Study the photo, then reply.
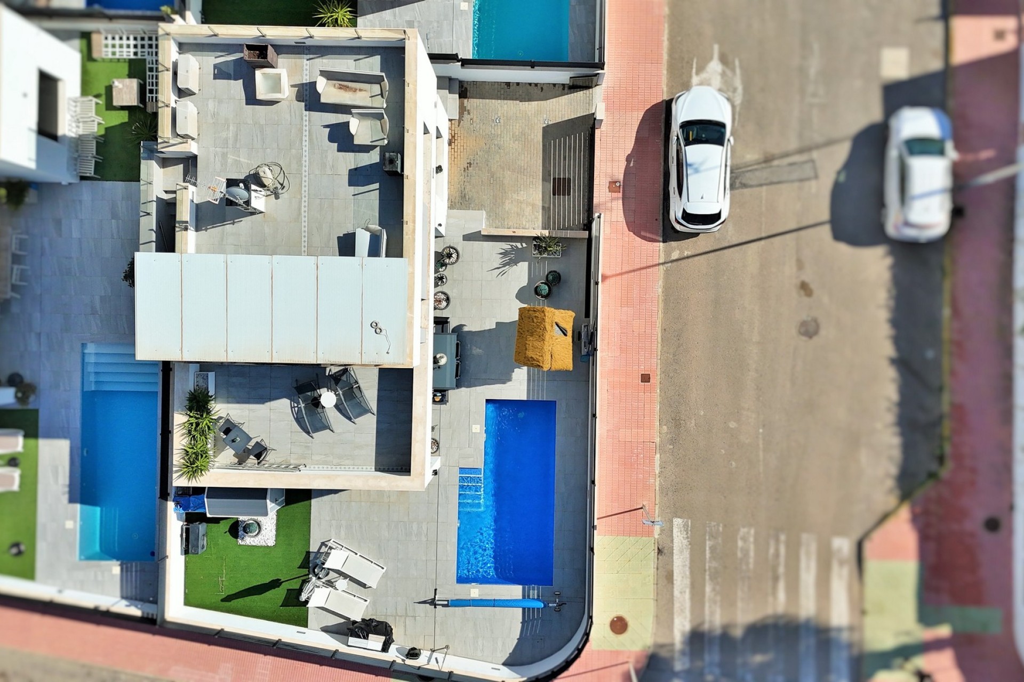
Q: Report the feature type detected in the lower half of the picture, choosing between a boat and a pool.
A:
pool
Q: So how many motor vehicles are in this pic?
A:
2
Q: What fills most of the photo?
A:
paved ground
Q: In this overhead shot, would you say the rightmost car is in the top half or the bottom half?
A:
top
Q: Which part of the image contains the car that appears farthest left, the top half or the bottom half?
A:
top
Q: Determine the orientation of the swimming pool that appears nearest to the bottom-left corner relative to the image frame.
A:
up and down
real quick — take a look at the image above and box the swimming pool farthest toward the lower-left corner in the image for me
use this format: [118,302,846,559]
[77,342,158,562]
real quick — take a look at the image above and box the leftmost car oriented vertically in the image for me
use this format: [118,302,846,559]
[668,86,739,232]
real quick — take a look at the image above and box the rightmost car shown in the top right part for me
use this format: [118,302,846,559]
[884,104,962,243]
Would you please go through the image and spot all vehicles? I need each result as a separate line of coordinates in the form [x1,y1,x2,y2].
[668,86,739,232]
[884,104,962,243]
